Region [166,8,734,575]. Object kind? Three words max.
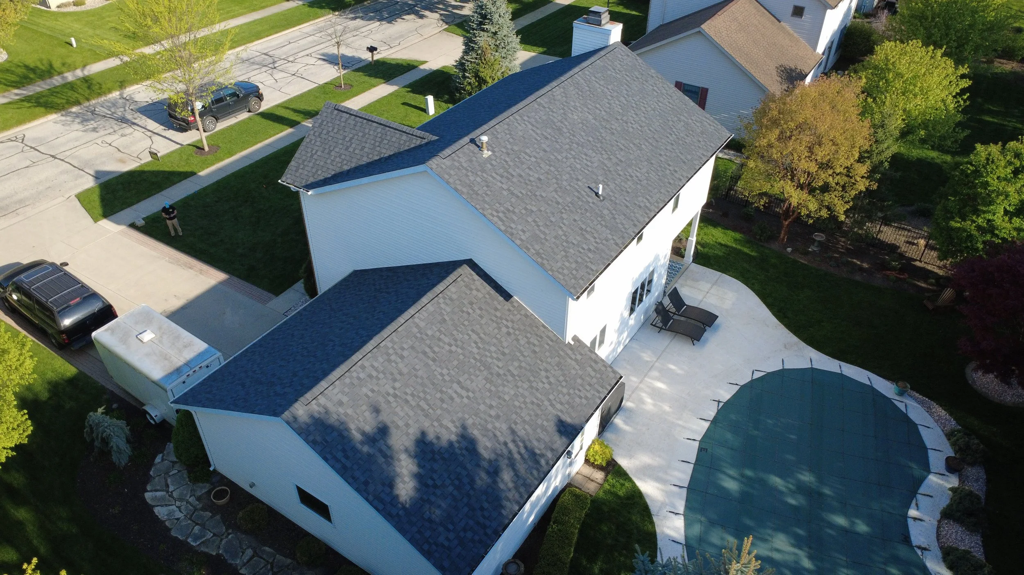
house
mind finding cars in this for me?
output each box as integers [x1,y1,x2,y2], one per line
[0,258,117,347]
[167,79,268,132]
